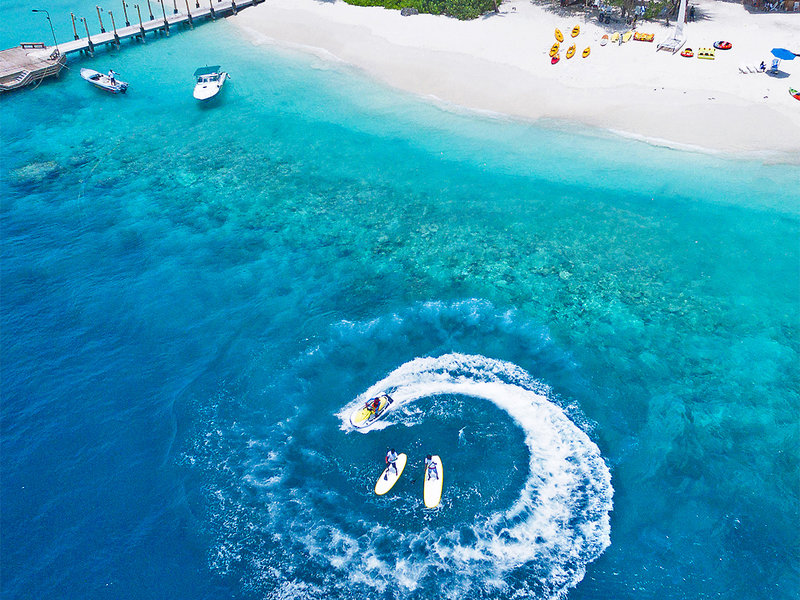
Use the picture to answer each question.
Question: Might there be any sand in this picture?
Yes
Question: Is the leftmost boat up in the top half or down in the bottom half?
top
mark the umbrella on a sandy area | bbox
[769,46,798,71]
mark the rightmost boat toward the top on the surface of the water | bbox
[195,65,231,103]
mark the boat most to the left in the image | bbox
[80,67,131,98]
